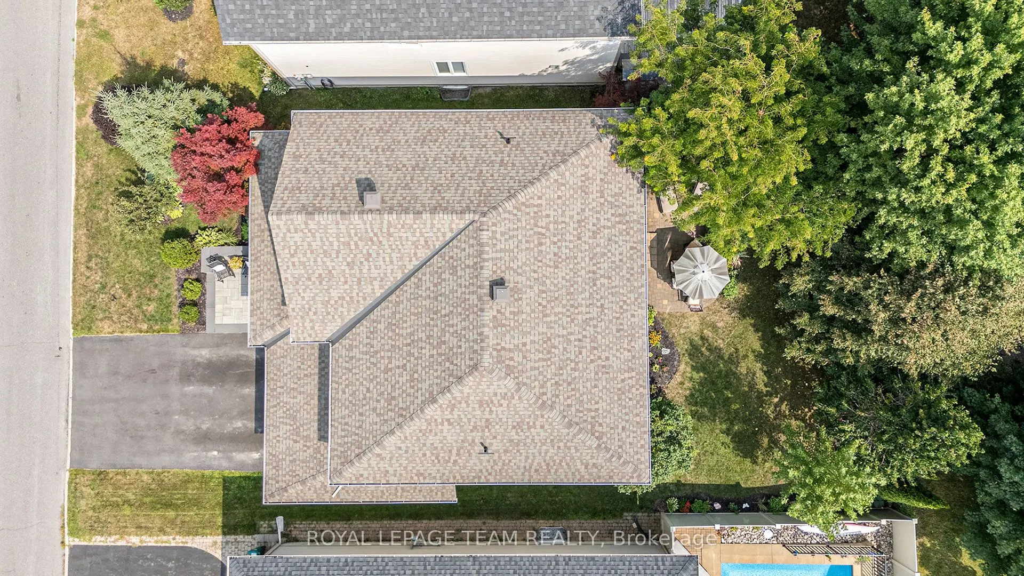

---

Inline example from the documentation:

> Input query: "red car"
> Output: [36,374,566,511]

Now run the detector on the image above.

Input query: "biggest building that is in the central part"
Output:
[248,108,650,503]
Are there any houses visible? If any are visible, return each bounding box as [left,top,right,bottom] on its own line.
[229,531,698,576]
[215,0,645,91]
[248,108,650,503]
